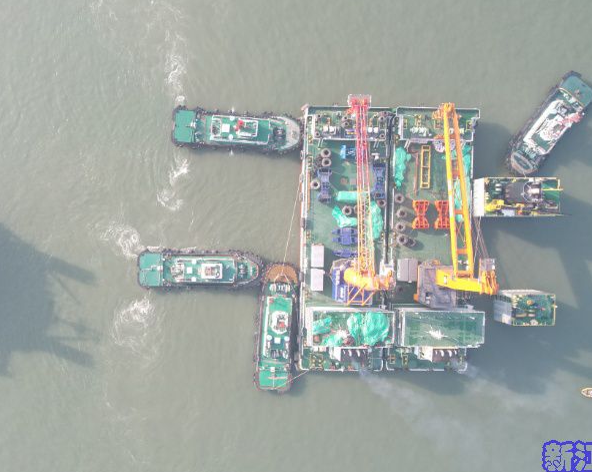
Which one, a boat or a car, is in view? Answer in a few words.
boat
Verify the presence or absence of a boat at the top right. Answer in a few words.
Yes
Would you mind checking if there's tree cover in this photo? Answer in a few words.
No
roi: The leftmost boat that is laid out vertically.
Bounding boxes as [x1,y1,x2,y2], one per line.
[251,261,302,394]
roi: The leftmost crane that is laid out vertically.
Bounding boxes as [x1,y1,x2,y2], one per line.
[329,91,395,307]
